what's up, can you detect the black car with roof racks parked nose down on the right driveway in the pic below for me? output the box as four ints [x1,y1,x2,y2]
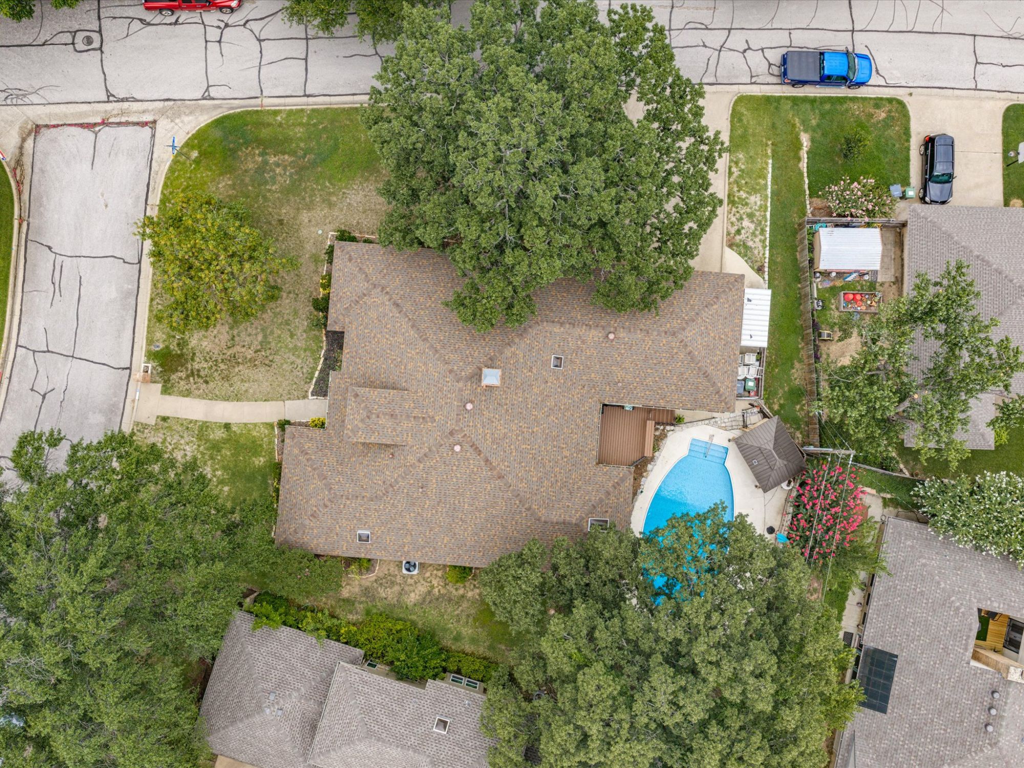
[915,134,958,206]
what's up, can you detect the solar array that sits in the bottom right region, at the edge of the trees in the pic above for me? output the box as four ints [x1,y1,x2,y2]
[860,645,900,716]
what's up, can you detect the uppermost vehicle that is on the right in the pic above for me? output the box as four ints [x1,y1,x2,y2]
[776,48,871,92]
